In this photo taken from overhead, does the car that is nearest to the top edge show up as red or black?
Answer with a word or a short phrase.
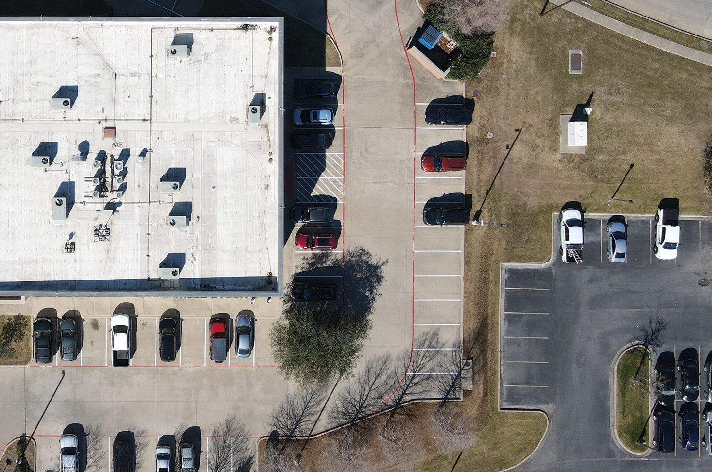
black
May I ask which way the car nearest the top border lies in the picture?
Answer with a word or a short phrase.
from side to side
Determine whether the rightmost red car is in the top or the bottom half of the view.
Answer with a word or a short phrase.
top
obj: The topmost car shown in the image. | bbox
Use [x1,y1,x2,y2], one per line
[293,78,338,100]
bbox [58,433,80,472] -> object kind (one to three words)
car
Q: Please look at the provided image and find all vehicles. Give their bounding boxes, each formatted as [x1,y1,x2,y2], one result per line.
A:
[605,222,629,262]
[234,314,254,358]
[209,318,228,365]
[291,132,335,151]
[678,407,703,451]
[112,440,133,472]
[158,318,179,362]
[110,313,132,368]
[655,208,682,260]
[293,78,338,100]
[420,153,466,174]
[424,107,473,127]
[57,318,78,361]
[178,442,197,472]
[291,106,333,127]
[291,205,333,225]
[678,347,703,402]
[653,409,679,453]
[58,433,80,472]
[560,208,587,263]
[154,445,171,472]
[422,205,470,228]
[703,408,712,454]
[654,350,679,406]
[32,318,53,363]
[290,282,337,301]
